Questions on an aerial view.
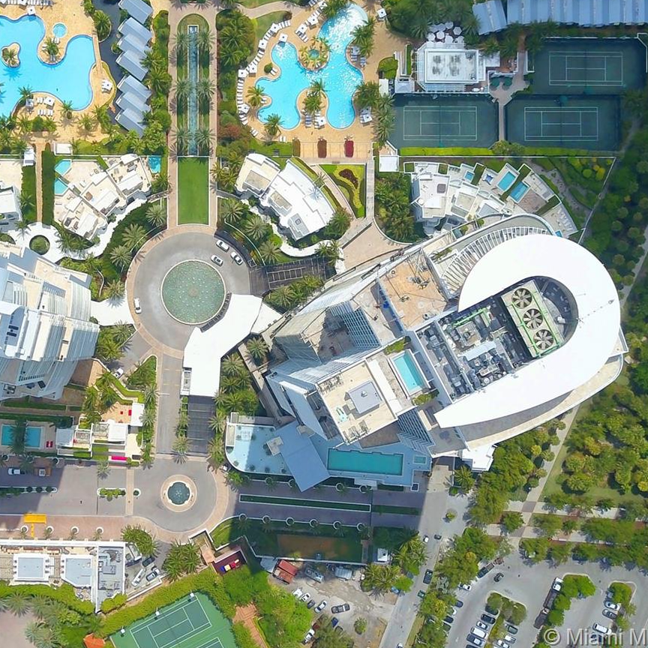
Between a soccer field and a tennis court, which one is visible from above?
tennis court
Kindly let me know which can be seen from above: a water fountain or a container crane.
water fountain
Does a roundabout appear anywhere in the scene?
Yes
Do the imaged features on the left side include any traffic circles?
Yes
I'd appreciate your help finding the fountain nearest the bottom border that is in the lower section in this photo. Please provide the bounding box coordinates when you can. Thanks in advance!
[159,476,198,514]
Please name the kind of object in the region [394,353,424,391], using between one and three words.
swimming pool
